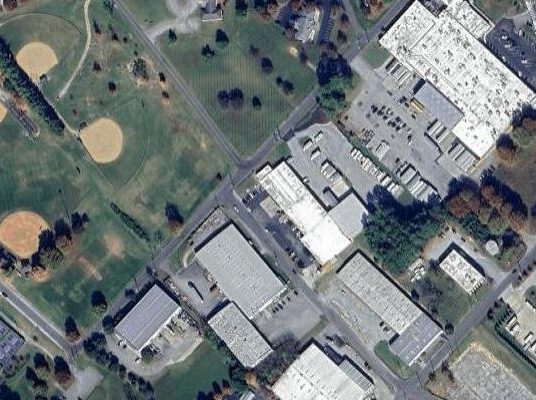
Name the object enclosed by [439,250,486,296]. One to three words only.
building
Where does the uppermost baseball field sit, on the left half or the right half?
left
